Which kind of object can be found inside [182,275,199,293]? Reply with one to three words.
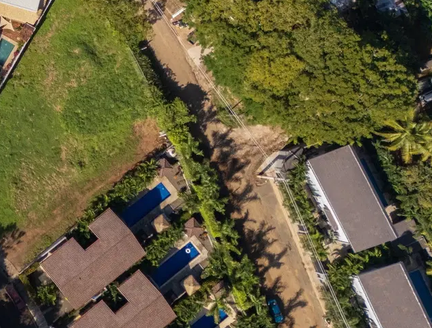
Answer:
umbrella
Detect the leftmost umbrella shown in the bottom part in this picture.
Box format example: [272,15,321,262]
[152,213,169,231]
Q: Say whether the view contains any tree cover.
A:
Yes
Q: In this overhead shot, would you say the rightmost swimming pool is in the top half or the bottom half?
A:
bottom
